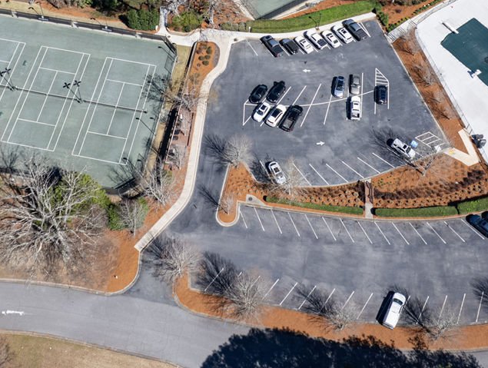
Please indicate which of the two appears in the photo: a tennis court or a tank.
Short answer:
tennis court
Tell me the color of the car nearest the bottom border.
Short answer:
white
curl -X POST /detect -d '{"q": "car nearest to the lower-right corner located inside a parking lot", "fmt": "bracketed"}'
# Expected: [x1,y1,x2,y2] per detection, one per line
[384,293,405,328]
